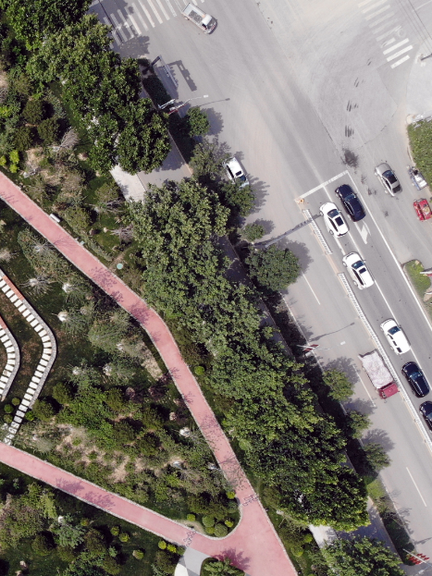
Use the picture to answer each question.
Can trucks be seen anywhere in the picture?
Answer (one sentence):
Yes, the frame does contain a truck.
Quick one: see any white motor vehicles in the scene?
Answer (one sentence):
Yes, the photo shows a white motor vehicle.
